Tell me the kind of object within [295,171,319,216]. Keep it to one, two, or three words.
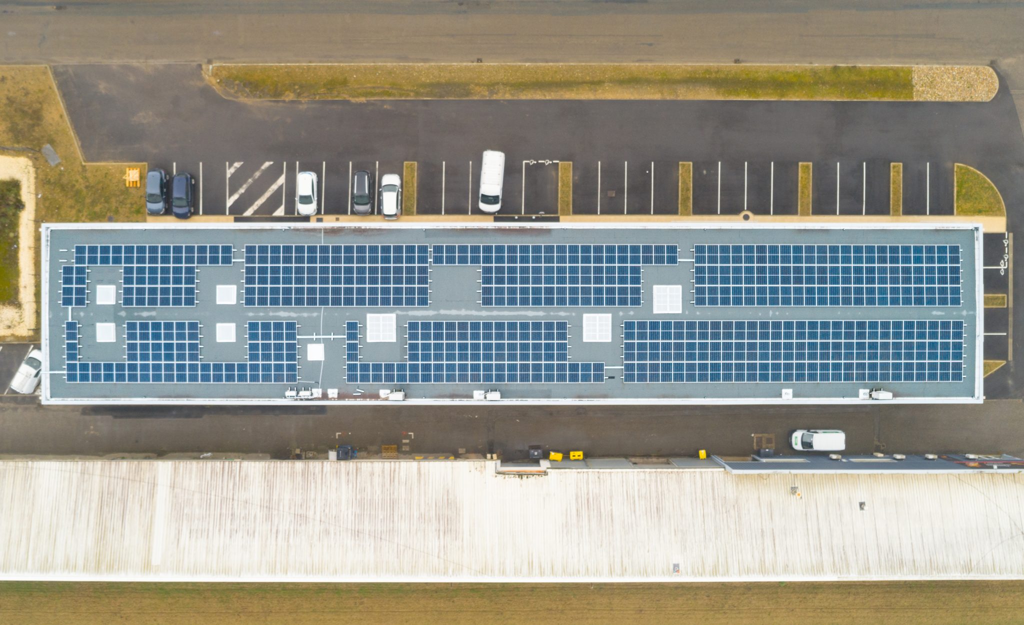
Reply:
car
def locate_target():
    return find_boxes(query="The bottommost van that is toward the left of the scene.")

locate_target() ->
[11,347,41,393]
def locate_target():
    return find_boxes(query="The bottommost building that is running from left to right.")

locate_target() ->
[0,451,1024,581]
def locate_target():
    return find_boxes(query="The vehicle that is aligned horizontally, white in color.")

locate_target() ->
[787,427,848,451]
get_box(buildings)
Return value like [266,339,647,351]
[41,223,984,404]
[0,451,1024,581]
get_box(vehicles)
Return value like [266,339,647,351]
[476,150,502,213]
[168,171,196,221]
[11,347,41,393]
[378,173,401,220]
[787,427,848,451]
[143,168,170,215]
[350,169,374,217]
[295,171,319,216]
